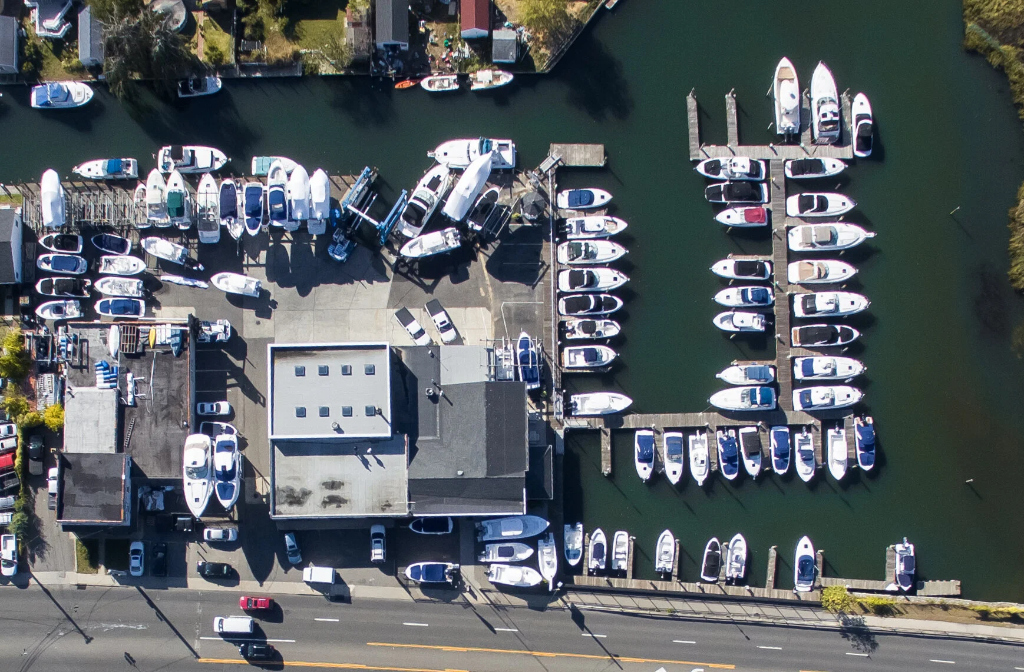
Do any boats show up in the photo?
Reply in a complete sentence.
Yes, the picture does show a boat.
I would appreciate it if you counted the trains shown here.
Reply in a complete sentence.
There are no trains in this view.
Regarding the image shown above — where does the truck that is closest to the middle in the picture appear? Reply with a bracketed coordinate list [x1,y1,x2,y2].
[427,300,457,346]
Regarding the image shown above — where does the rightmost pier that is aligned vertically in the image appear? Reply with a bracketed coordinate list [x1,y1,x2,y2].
[733,158,840,413]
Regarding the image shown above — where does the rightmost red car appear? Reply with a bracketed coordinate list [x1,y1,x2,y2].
[240,595,274,611]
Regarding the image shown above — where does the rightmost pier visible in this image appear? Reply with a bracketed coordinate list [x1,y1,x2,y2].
[916,580,961,596]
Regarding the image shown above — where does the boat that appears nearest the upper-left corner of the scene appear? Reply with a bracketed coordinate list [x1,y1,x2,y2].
[31,81,96,109]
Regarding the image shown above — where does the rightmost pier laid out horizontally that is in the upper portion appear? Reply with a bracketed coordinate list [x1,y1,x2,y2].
[687,86,855,160]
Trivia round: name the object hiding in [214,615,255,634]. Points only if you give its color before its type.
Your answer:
white vehicle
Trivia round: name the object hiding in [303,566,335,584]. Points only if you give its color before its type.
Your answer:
white vehicle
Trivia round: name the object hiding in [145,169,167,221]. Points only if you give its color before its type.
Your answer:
white boat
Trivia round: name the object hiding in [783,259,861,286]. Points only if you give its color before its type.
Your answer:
white boat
